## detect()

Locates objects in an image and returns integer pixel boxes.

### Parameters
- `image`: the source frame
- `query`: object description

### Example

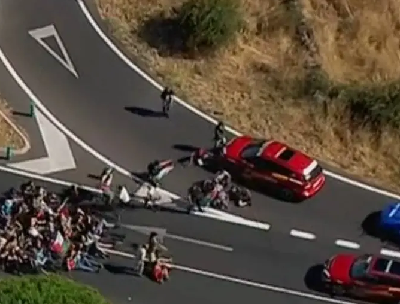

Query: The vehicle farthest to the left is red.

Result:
[220,131,329,195]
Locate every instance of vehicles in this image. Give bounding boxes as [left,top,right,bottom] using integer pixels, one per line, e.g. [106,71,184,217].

[325,245,400,300]
[220,131,329,195]
[383,197,400,239]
